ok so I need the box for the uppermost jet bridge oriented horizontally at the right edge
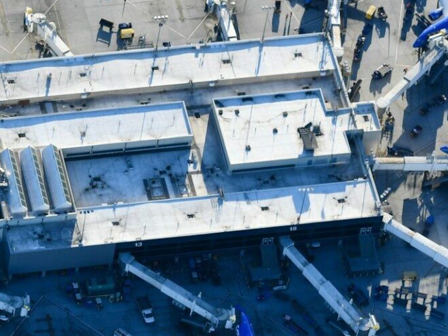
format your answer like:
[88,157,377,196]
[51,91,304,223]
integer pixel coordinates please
[365,154,448,193]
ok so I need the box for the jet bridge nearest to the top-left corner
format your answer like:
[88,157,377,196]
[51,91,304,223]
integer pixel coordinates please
[18,6,82,57]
